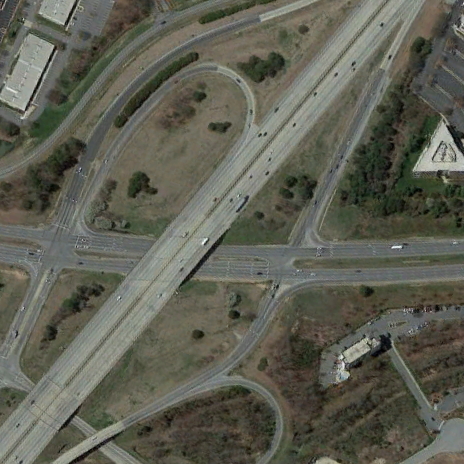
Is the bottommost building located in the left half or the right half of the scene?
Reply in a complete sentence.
The bottommost building appears in the right half of the scene.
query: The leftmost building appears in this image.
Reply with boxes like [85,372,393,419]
[0,33,55,117]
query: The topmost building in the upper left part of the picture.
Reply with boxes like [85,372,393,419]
[39,0,80,31]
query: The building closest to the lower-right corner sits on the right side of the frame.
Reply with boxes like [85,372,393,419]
[339,338,380,373]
